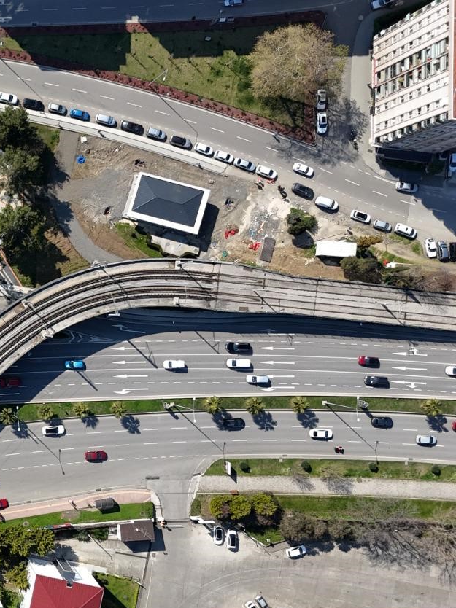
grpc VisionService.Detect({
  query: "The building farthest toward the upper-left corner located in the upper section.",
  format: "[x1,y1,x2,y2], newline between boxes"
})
[120,172,210,256]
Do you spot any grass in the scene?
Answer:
Yes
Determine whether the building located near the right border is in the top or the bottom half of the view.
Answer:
top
